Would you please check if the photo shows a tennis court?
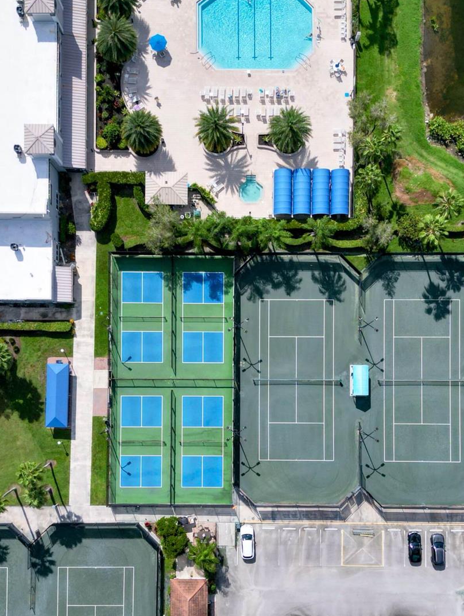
Yes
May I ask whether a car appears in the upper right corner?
No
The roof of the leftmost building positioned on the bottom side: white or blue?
blue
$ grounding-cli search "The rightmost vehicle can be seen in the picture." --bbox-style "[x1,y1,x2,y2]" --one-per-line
[430,532,447,568]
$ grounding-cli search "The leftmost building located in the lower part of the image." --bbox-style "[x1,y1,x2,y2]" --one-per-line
[45,363,72,428]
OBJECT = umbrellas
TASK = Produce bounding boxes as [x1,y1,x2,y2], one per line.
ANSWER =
[148,33,168,53]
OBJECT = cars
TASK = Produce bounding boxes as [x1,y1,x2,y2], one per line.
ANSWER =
[430,532,447,568]
[407,531,423,564]
[239,525,255,560]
